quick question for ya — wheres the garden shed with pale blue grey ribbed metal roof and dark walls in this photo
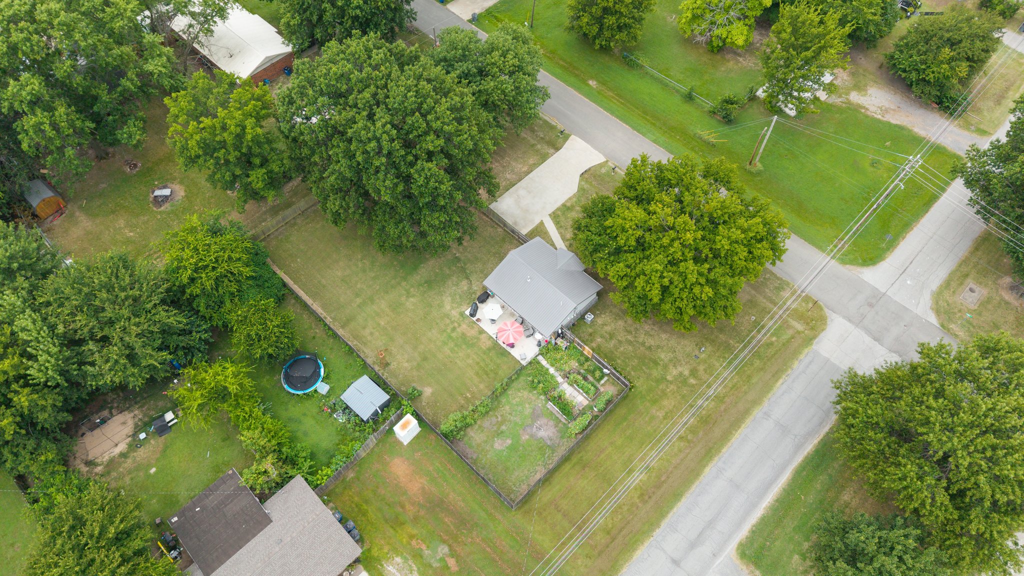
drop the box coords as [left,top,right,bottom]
[340,375,390,422]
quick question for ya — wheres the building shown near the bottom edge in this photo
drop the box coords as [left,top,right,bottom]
[167,468,362,576]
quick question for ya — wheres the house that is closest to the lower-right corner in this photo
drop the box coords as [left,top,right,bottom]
[482,237,600,345]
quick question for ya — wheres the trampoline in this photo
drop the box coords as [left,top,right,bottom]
[274,346,323,405]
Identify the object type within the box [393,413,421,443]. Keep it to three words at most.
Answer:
shed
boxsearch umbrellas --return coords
[492,319,524,347]
[483,302,503,322]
